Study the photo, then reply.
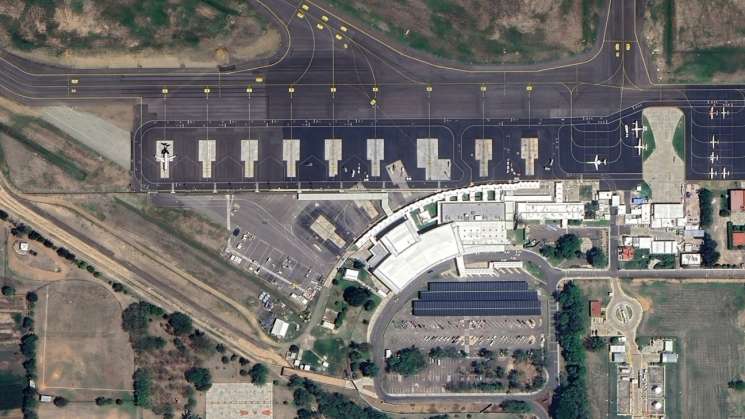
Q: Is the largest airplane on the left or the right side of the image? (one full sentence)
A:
You can find the largest airplane on the left side of the picture.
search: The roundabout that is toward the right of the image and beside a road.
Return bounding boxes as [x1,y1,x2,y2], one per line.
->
[606,277,643,350]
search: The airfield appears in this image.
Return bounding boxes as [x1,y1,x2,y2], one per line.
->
[0,0,745,299]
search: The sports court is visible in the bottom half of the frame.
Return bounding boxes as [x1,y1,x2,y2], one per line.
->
[207,383,273,419]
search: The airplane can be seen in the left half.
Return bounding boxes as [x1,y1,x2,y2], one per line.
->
[156,142,177,170]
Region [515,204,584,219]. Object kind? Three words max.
building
